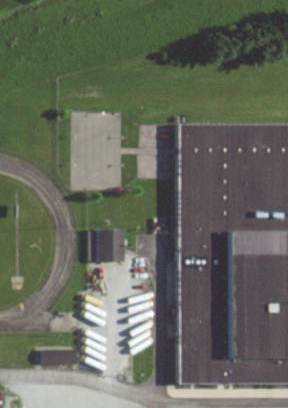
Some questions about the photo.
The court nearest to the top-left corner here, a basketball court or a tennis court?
basketball court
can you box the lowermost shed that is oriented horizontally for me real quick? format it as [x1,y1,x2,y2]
[41,350,78,363]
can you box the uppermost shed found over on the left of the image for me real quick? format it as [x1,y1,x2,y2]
[88,230,124,262]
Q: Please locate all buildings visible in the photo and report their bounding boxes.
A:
[41,350,78,363]
[88,230,124,262]
[175,124,288,384]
